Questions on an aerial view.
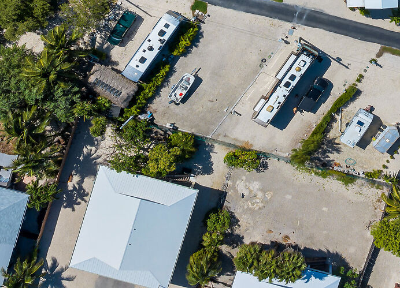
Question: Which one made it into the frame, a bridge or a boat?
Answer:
boat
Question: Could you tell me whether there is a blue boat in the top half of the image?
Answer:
No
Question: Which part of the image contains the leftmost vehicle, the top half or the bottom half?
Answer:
top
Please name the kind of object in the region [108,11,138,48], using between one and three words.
vehicle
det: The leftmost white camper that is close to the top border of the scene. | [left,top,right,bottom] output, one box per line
[124,8,189,82]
